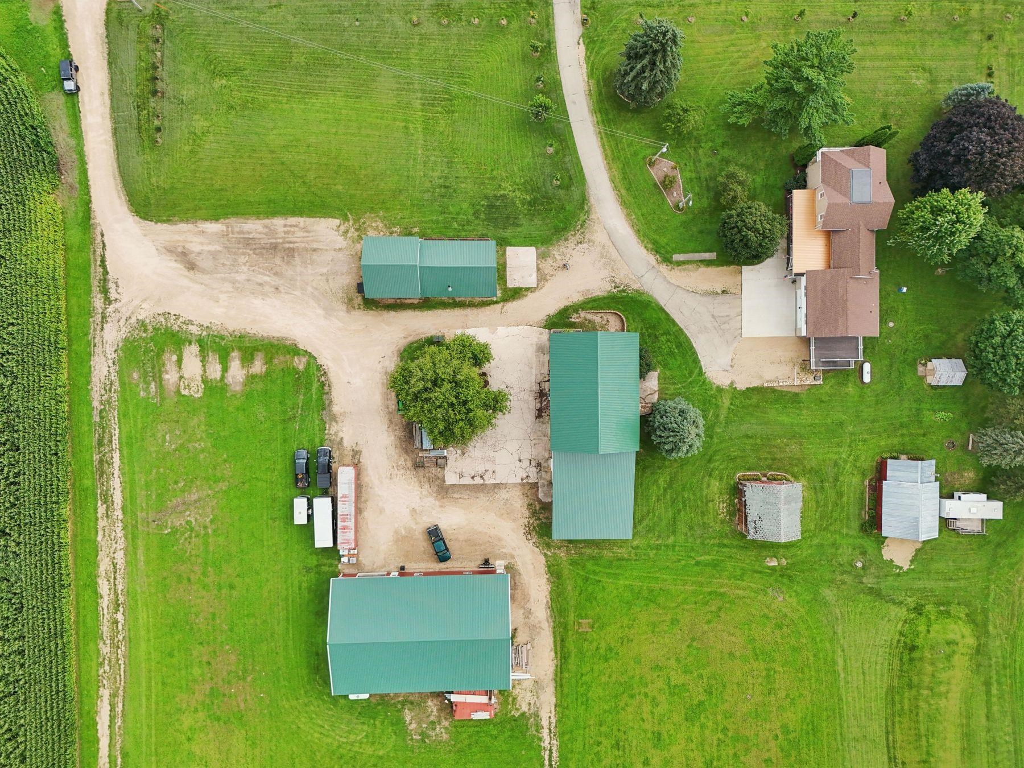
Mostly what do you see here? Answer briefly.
grass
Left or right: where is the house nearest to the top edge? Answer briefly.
right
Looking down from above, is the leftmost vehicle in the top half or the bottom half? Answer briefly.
top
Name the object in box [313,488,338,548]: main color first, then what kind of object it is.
white trailer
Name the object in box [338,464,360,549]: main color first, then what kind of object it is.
white trailer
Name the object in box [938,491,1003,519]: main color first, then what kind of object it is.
white camper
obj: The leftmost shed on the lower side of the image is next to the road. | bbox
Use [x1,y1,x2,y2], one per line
[326,568,512,695]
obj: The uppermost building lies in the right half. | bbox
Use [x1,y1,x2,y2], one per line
[807,145,895,231]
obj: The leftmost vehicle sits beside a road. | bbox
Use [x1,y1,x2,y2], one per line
[56,61,78,95]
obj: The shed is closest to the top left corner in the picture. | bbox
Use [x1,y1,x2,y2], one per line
[361,236,422,298]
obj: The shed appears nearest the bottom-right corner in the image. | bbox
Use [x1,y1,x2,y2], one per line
[875,481,939,541]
